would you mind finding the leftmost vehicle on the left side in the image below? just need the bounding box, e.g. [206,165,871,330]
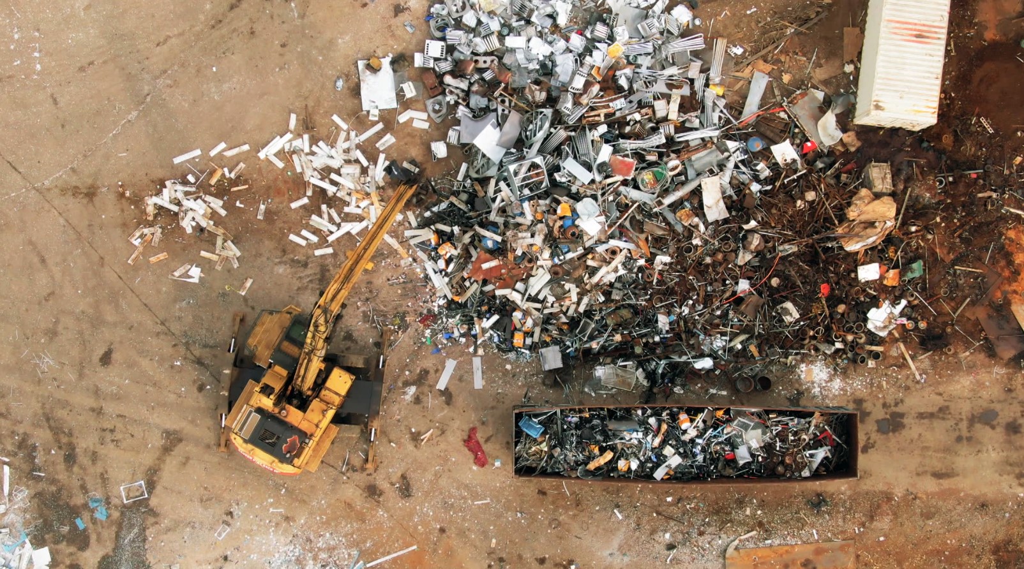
[218,153,426,476]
